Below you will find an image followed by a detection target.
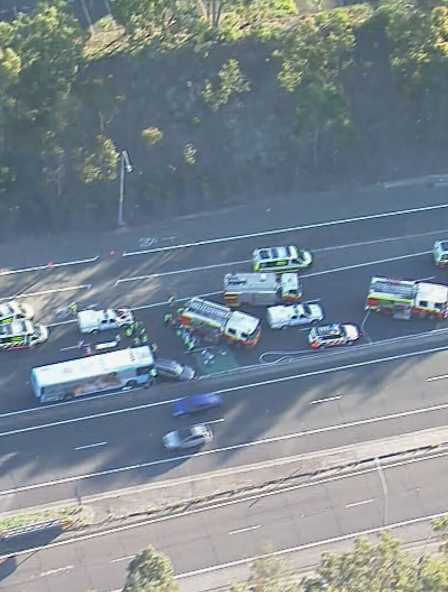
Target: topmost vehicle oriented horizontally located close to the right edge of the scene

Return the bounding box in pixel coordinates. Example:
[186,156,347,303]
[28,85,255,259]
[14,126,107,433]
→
[367,278,448,321]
